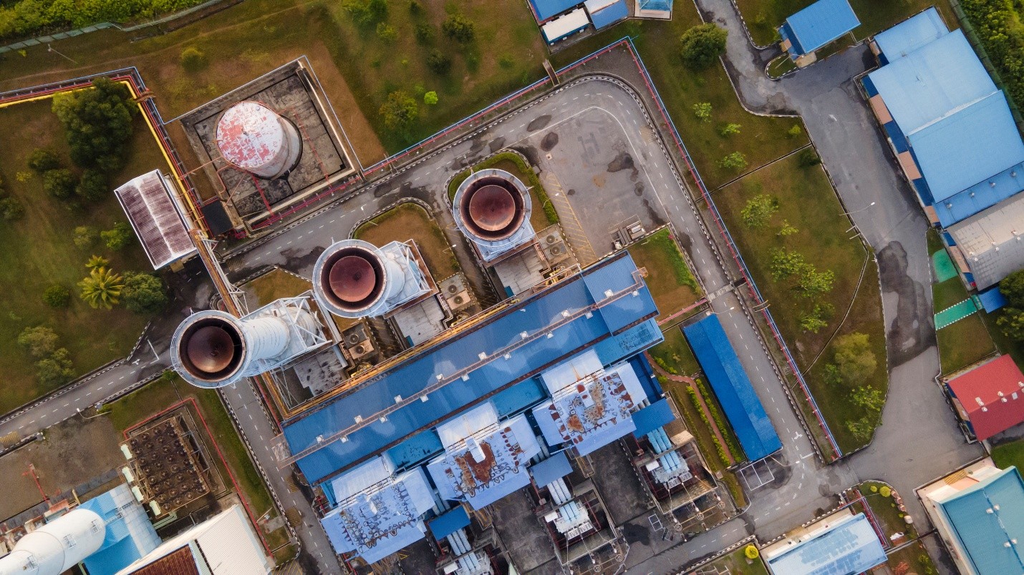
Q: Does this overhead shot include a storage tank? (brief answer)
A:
Yes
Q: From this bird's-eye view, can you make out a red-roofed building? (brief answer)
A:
Yes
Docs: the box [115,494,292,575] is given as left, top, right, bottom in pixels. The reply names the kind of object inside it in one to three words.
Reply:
building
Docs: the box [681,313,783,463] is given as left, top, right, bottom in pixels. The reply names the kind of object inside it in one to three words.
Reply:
shed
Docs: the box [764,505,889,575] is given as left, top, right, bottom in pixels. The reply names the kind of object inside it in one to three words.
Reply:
building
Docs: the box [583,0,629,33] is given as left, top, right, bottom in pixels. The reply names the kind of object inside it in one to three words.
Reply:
shed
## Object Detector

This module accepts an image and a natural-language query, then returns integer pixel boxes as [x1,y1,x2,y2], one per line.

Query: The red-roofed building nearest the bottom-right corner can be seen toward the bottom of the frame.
[940,354,1024,441]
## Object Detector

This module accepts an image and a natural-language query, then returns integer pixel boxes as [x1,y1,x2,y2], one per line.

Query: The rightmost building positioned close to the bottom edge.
[927,462,1024,575]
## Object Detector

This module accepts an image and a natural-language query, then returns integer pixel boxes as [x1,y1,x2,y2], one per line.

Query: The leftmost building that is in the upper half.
[114,169,198,271]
